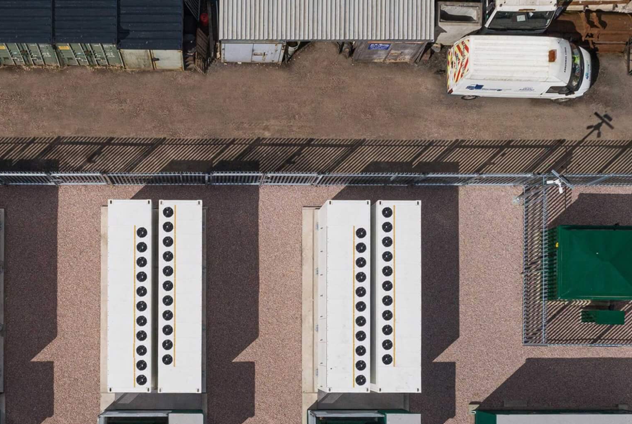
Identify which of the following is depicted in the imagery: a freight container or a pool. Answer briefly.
freight container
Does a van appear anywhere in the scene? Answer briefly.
Yes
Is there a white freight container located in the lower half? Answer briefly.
Yes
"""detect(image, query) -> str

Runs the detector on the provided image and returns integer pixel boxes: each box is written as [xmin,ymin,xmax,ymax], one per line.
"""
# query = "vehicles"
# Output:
[448,34,590,102]
[472,0,565,35]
